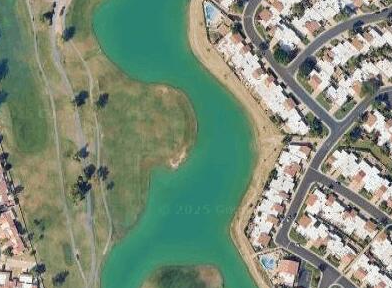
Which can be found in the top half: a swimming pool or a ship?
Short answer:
swimming pool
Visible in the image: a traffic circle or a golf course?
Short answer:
golf course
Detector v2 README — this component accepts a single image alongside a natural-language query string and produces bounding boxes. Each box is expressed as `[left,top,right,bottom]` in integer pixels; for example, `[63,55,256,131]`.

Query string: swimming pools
[203,2,228,34]
[259,252,282,272]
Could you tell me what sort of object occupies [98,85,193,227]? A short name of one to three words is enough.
golf course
